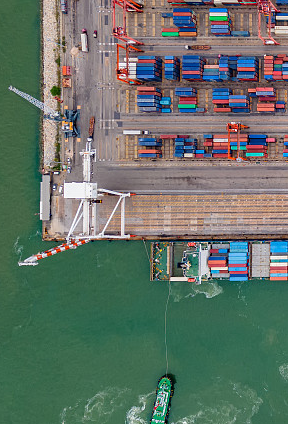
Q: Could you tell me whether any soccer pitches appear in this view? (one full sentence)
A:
No, there is no soccer pitch in the image.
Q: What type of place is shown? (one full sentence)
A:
The picture captures a port.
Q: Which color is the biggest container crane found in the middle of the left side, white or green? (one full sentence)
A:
The biggest container crane found in the middle of the left side is white.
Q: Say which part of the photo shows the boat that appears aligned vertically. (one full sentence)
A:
The boat that appears aligned vertically appears toward the bottom of the photo.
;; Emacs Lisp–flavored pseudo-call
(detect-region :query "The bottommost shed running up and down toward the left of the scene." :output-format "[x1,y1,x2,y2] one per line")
[37,175,56,220]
